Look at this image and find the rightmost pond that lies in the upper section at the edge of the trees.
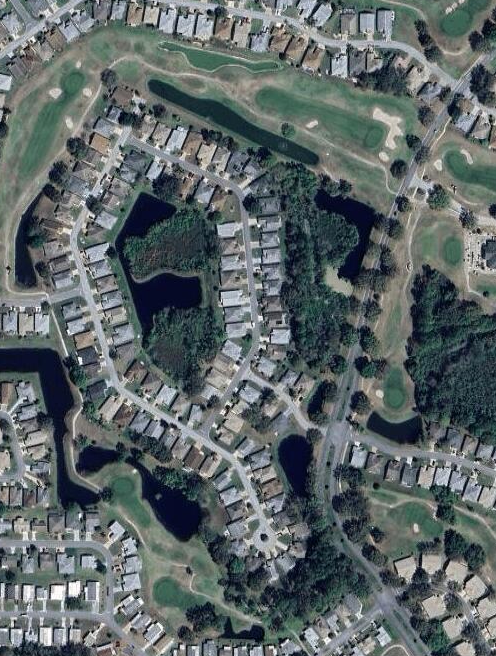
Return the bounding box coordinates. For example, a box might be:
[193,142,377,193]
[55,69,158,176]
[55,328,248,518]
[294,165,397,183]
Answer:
[315,187,376,279]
